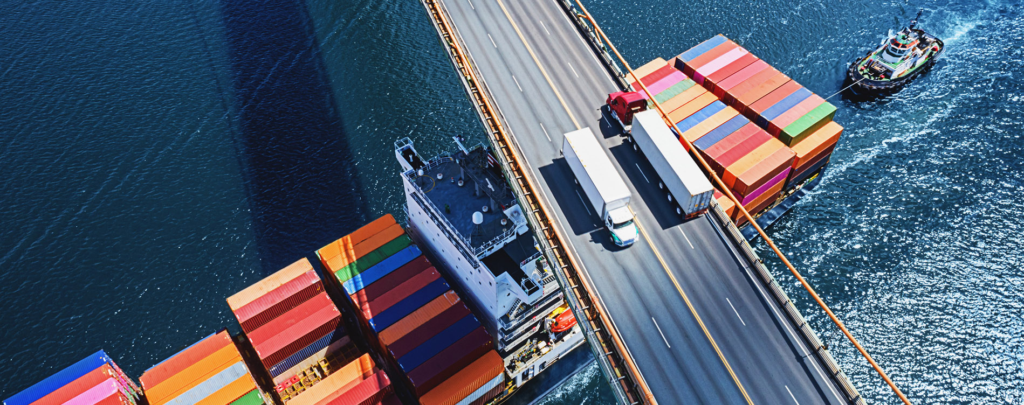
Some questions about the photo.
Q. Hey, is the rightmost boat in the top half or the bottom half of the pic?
top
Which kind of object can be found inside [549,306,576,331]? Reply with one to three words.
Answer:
boat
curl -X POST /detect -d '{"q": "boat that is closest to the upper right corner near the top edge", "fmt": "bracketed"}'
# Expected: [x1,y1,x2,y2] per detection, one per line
[843,6,949,94]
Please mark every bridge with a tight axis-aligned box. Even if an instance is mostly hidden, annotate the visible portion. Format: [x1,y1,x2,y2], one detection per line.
[418,0,915,405]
